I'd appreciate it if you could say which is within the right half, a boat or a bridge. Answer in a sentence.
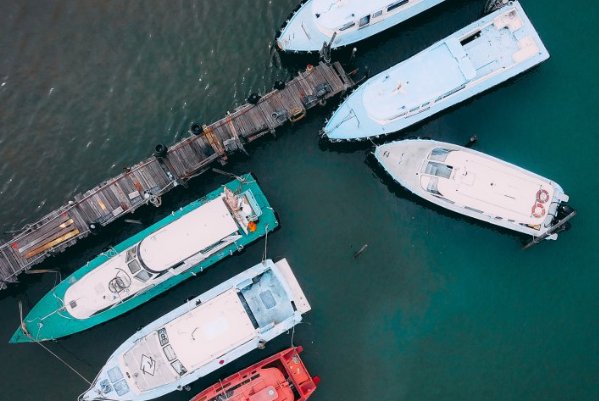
The feature located within the right half is a boat.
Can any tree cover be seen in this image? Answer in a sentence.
No, tree cover can't be seen anywhere here.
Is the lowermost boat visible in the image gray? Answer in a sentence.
No, the lowermost boat is actually red.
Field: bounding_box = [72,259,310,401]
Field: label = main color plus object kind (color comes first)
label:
white boat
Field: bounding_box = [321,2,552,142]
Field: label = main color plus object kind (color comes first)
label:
white boat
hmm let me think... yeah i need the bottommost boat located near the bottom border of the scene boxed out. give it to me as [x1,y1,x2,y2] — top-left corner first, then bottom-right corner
[188,345,318,401]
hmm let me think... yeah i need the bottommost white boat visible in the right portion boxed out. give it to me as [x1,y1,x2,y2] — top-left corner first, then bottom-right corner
[376,140,572,242]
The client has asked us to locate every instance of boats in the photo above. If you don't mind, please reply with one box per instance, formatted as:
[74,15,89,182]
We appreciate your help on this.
[188,345,318,401]
[72,259,310,401]
[321,2,552,142]
[275,0,474,53]
[376,140,572,242]
[7,174,279,345]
